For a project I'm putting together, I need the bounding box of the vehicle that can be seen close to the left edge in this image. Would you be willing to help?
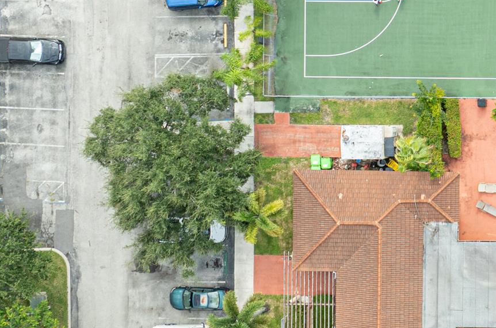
[0,33,68,66]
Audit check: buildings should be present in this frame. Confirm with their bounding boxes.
[341,125,386,160]
[291,169,496,328]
